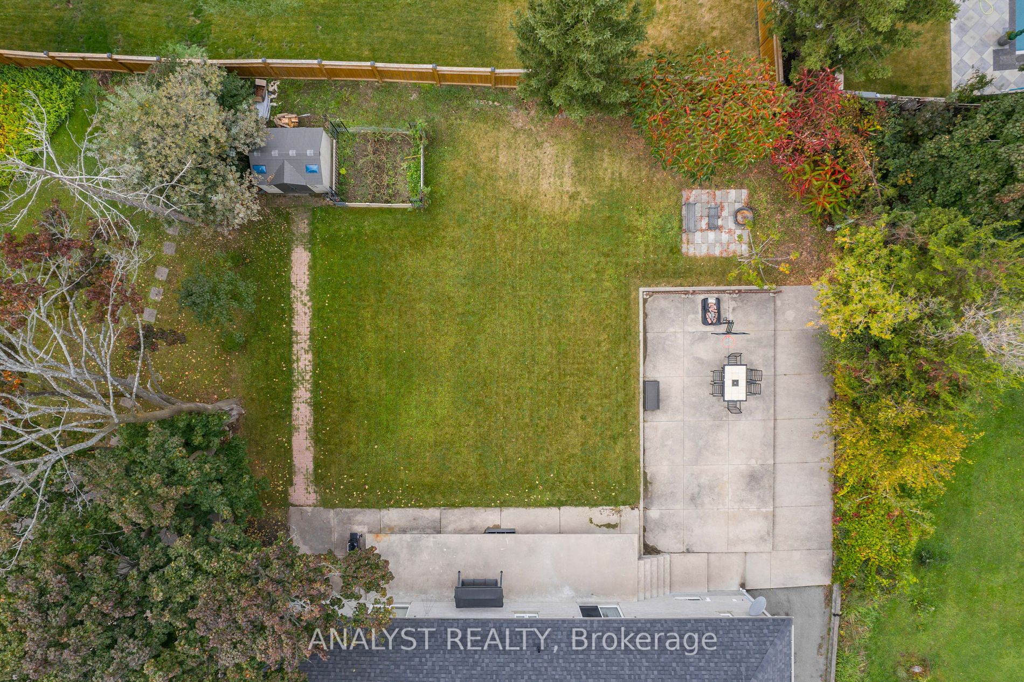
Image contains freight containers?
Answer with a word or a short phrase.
No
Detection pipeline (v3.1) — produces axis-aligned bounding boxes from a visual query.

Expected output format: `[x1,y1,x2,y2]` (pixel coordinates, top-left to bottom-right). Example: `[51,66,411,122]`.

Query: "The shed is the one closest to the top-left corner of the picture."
[248,124,331,194]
